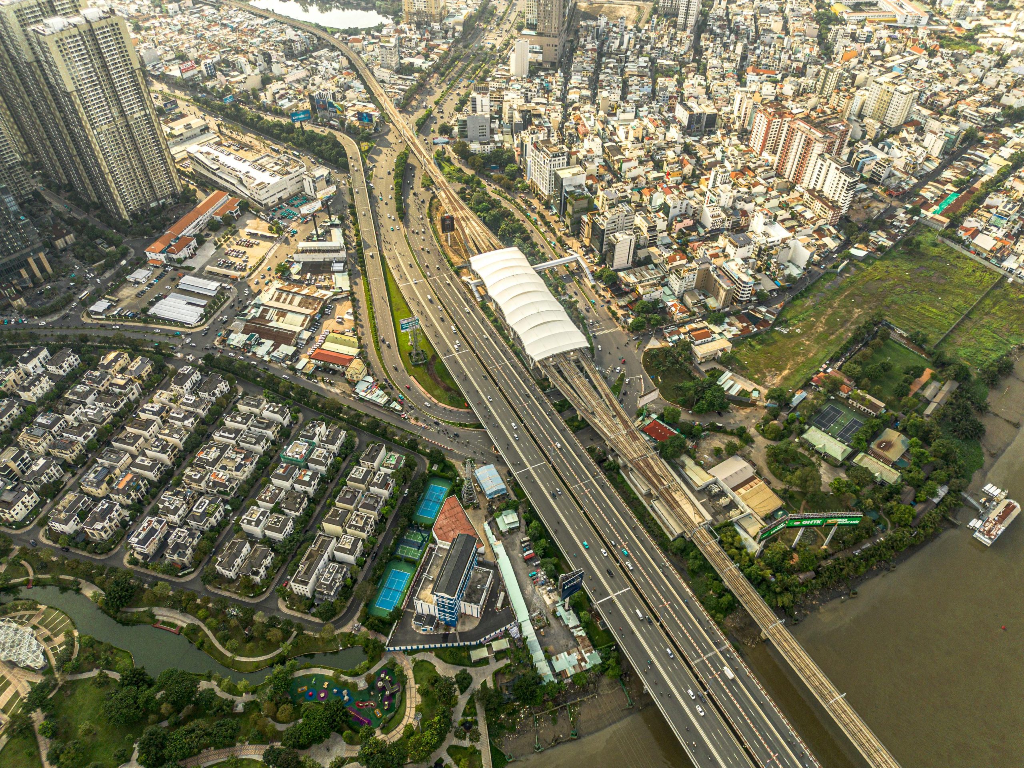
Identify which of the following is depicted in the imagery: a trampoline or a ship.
ship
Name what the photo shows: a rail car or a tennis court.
tennis court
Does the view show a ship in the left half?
No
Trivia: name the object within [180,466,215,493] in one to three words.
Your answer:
house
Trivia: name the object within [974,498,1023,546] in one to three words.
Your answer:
ship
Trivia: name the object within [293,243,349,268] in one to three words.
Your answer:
building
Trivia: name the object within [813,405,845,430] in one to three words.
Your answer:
tennis court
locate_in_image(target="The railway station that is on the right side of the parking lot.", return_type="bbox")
[469,246,589,368]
